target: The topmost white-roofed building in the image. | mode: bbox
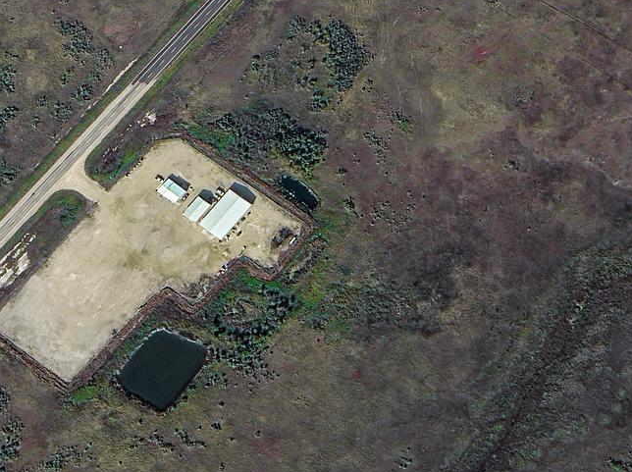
[158,176,186,204]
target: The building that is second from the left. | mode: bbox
[184,195,211,223]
